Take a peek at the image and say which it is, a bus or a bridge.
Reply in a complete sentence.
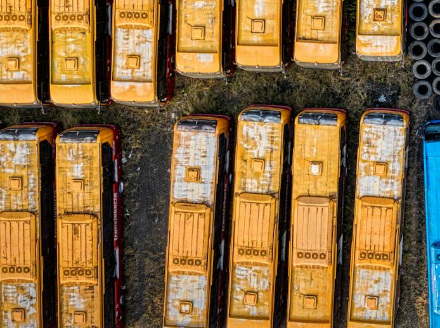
Visible in the photo is a bus.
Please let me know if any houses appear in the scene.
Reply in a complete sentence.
No, no house is visible in the scene.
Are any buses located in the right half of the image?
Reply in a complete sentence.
Yes, looking in the right half of the image, one can make out a bus.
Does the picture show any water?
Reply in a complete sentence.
No, the scene doesn't show any water.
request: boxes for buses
[235,0,294,79]
[419,120,440,328]
[288,102,348,328]
[227,101,292,328]
[0,0,54,116]
[346,102,410,328]
[176,0,236,86]
[56,120,128,328]
[164,109,233,328]
[292,0,350,78]
[0,120,64,328]
[354,0,406,71]
[49,0,114,116]
[112,0,177,115]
